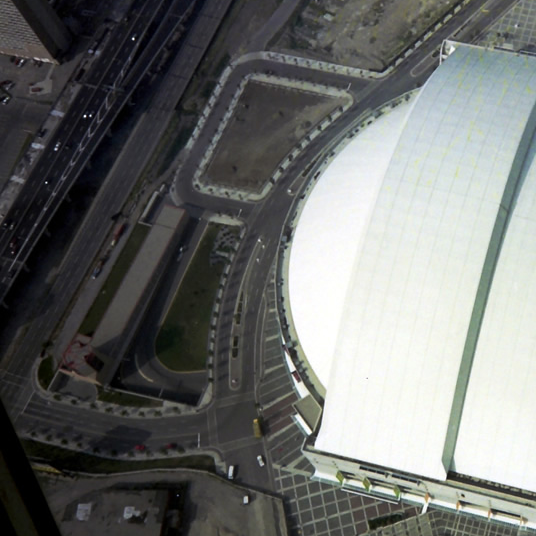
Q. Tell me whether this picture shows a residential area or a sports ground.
sports ground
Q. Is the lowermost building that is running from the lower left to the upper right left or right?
left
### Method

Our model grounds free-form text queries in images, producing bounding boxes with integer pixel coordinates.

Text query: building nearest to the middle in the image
[58,204,189,387]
